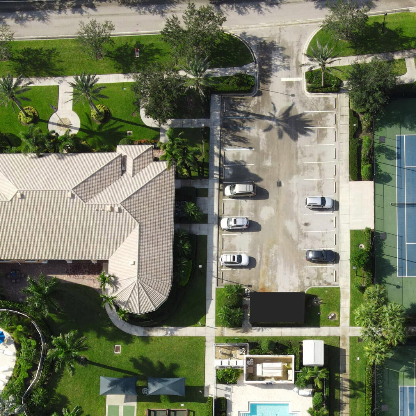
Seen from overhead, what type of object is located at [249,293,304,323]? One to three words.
shed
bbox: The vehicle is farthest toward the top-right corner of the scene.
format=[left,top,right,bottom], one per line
[305,197,334,210]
